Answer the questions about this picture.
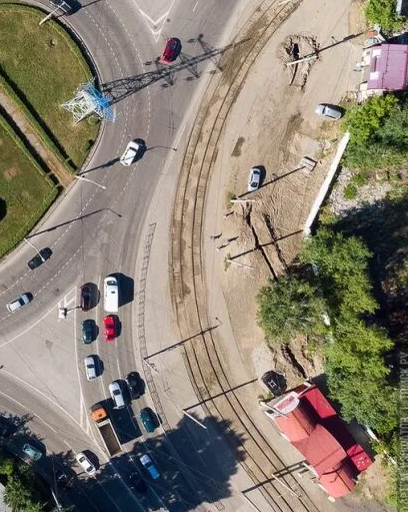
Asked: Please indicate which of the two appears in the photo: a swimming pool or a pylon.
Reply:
pylon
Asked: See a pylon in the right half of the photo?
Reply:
No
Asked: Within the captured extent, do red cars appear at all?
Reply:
Yes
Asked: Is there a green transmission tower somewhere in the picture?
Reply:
No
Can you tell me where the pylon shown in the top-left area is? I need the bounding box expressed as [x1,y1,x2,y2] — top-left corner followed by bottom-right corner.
[62,82,115,127]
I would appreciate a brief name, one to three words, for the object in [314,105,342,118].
vehicle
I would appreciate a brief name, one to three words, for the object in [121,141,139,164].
car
